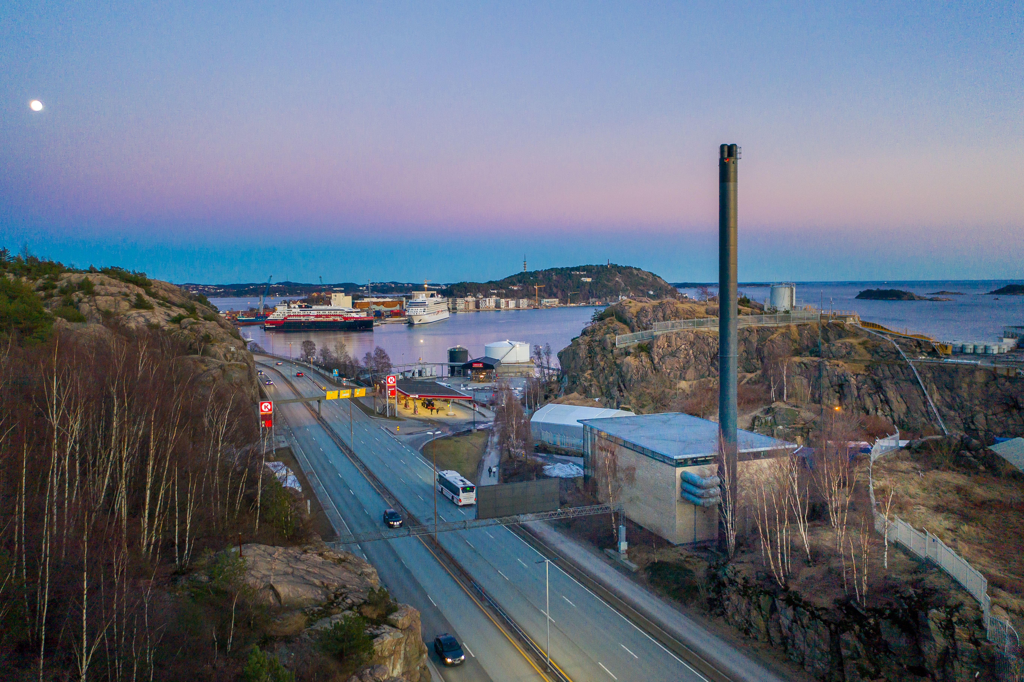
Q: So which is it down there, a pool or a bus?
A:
bus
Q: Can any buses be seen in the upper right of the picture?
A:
No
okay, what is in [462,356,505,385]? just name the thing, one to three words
shed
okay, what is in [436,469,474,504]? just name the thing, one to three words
bus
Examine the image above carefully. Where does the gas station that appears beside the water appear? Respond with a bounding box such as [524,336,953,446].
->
[368,380,472,412]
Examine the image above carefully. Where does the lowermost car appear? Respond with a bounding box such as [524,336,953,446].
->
[434,631,467,664]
